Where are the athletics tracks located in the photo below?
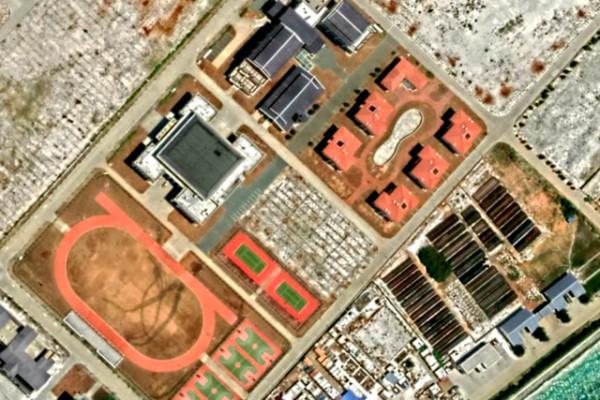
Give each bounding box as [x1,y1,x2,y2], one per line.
[54,190,238,372]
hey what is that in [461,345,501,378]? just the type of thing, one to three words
building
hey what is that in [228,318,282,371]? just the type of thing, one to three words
basketball court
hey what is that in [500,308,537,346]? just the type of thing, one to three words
house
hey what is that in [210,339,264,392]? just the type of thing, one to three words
basketball court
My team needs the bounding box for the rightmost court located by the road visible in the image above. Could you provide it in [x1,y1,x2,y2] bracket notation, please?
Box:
[266,270,321,327]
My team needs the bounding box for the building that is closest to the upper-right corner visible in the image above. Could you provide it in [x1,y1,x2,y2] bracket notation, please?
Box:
[444,113,482,154]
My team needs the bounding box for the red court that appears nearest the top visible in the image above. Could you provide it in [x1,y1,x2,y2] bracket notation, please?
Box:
[221,229,281,290]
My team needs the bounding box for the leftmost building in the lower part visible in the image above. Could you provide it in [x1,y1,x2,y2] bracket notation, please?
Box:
[0,308,64,395]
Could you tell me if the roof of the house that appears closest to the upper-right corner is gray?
No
